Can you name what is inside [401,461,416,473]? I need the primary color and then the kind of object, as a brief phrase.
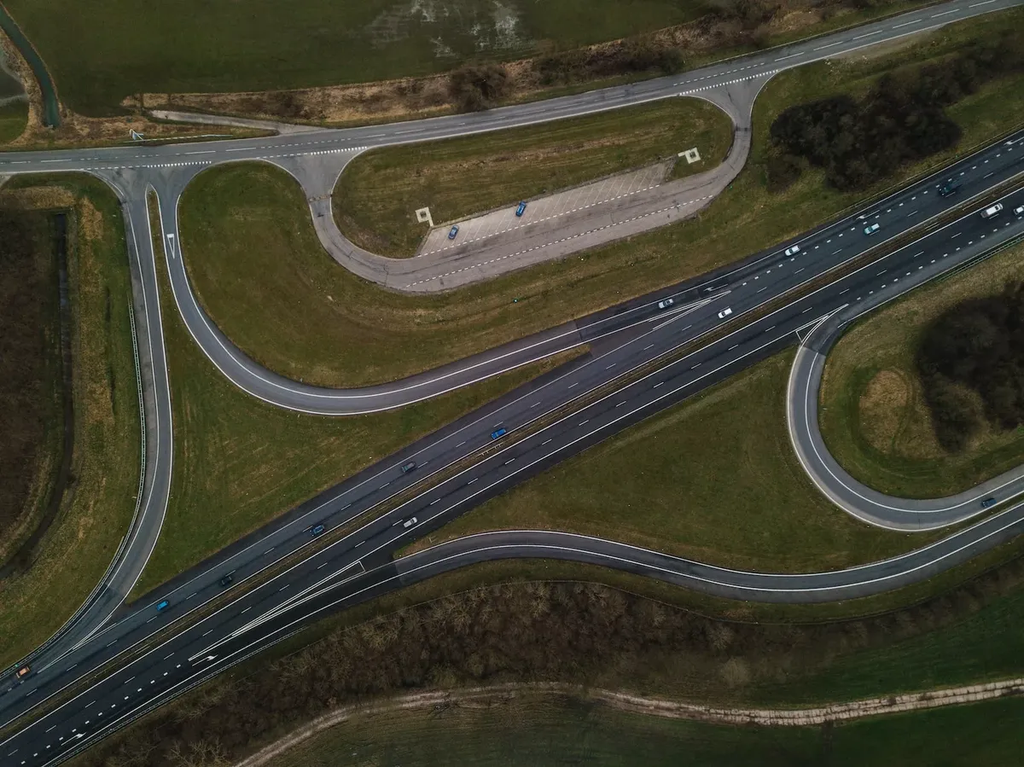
gray vehicle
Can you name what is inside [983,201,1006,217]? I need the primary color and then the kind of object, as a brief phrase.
white vehicle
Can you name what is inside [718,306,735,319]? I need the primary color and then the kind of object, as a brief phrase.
white vehicle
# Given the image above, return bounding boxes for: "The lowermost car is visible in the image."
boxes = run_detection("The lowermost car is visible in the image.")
[13,667,29,679]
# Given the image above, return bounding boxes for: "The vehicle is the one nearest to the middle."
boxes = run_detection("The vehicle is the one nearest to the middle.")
[491,428,507,440]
